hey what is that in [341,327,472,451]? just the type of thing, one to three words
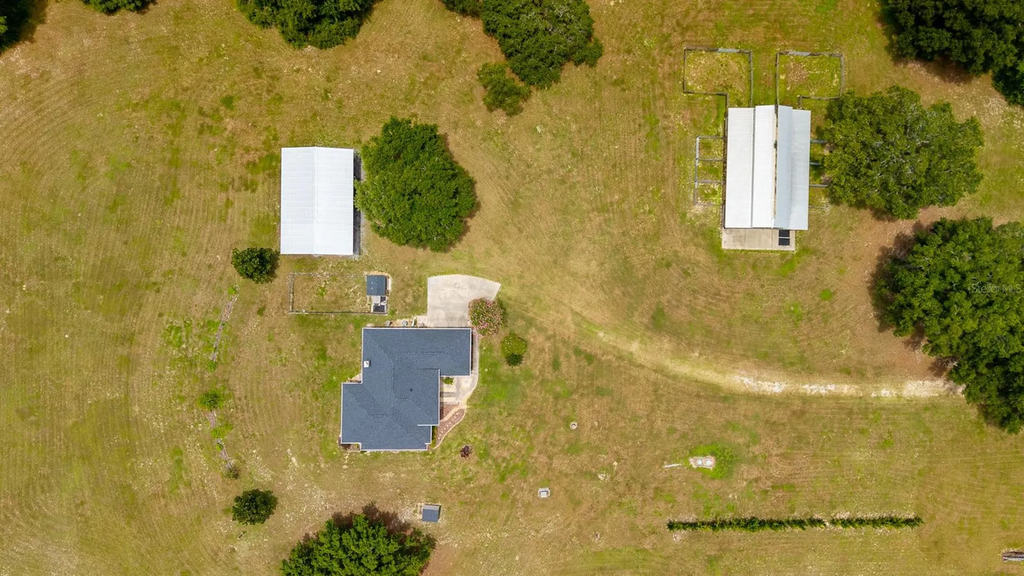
house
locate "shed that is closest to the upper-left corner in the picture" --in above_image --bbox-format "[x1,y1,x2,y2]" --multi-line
[281,146,356,256]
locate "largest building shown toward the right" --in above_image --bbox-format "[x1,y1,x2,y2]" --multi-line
[721,103,811,231]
